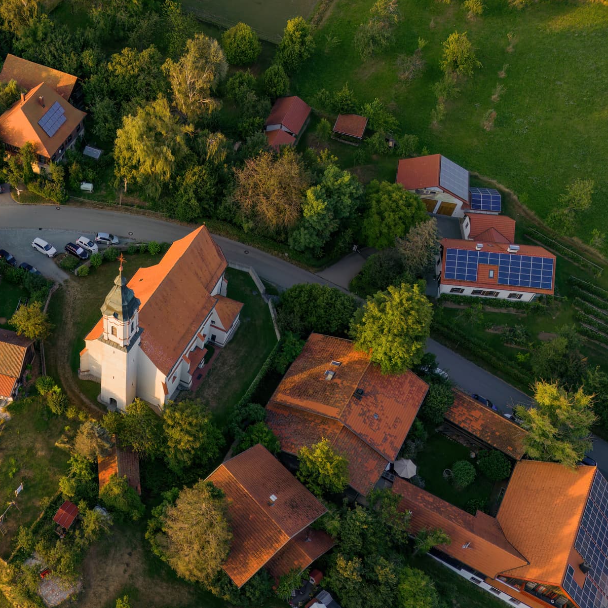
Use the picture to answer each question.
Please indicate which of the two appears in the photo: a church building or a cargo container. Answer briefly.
church building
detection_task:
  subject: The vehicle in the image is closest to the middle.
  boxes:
[435,358,459,384]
